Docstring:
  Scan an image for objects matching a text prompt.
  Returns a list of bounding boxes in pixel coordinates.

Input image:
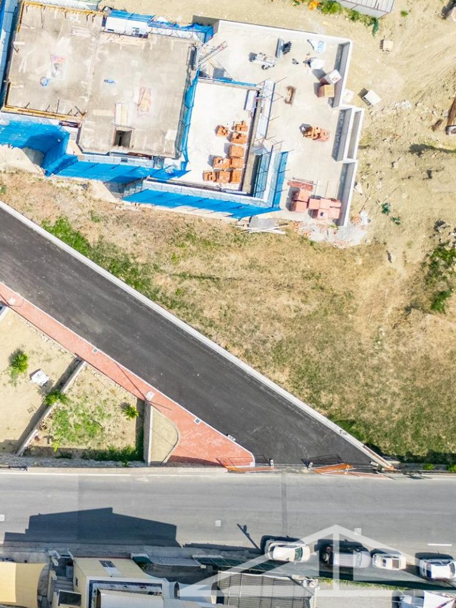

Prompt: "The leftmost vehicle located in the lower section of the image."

[261,539,309,564]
